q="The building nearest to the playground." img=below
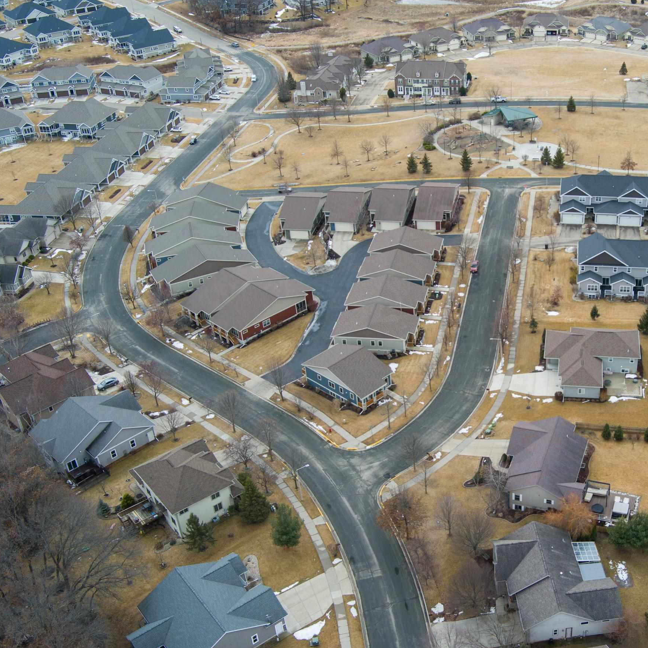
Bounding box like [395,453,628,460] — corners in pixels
[484,106,537,129]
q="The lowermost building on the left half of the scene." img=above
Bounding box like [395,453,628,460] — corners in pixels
[124,551,285,648]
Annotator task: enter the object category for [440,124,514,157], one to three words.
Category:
playground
